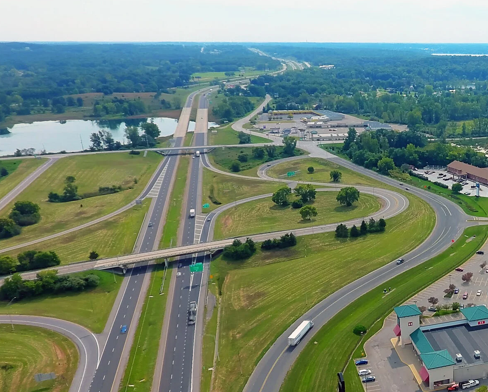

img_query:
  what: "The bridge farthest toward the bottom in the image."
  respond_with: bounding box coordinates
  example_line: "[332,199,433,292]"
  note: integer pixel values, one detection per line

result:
[94,235,238,277]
